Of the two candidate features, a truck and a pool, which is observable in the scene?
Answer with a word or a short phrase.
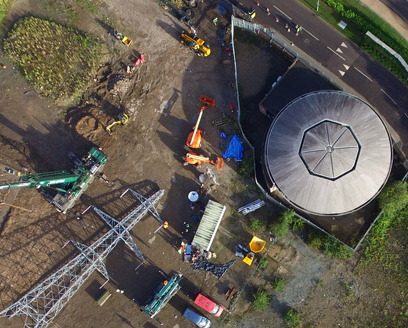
truck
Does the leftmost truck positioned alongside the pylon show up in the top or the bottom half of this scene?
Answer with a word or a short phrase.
bottom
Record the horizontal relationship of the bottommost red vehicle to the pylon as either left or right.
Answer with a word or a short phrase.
to the right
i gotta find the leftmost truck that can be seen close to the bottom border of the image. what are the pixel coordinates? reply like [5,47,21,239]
[142,271,188,317]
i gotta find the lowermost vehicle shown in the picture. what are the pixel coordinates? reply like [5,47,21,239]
[183,308,211,328]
